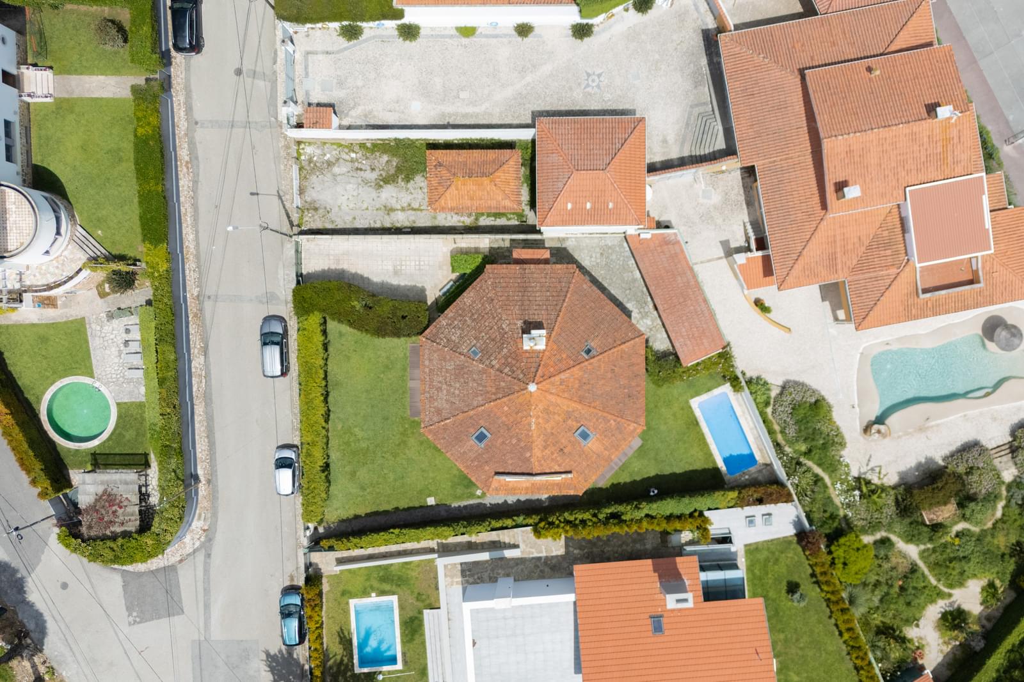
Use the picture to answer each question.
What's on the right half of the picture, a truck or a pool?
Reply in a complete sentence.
What appears on the right half of the picture is a pool.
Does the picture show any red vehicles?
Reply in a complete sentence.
No, I can see no red vehicle in this picture.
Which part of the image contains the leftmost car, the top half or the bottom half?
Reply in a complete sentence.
Seen from above, the leftmost car lies in the top half of the view.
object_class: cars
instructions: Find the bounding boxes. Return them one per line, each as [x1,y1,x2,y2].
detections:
[278,585,308,645]
[171,0,206,54]
[273,443,302,495]
[258,314,290,377]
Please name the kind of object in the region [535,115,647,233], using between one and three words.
building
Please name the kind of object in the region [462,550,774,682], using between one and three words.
house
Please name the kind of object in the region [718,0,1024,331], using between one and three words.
house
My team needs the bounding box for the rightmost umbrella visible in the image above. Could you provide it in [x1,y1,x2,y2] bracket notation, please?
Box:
[991,322,1021,352]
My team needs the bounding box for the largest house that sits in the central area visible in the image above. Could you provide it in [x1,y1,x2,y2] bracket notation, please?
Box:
[418,248,647,497]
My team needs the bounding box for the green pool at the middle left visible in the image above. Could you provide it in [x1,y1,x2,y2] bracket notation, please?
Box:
[40,374,117,451]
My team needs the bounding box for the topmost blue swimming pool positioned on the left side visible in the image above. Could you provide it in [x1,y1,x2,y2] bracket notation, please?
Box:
[354,601,397,668]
